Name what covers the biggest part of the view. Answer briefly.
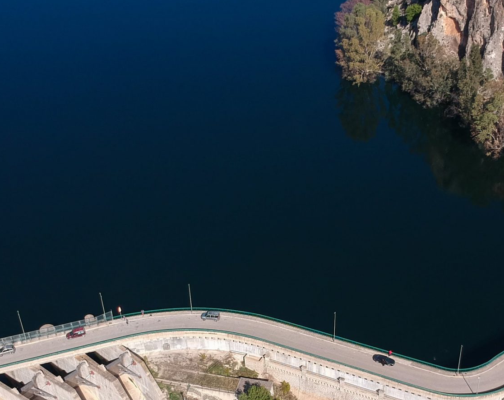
water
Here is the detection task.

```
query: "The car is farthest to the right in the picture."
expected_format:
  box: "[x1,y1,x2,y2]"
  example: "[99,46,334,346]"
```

[373,352,395,366]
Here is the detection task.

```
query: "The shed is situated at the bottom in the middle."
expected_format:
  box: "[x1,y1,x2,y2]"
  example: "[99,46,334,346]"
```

[236,376,274,400]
